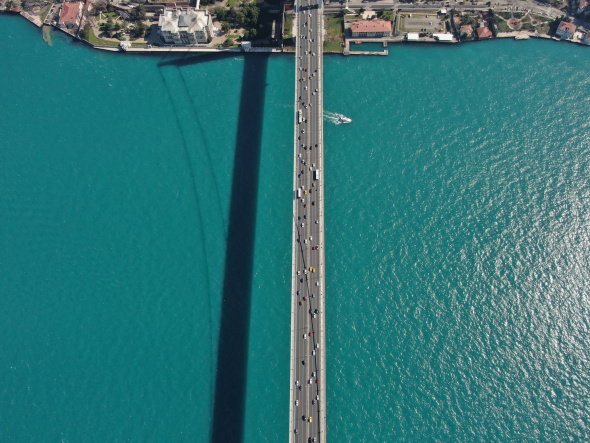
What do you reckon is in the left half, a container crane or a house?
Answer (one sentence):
It is a house that can be seen in the left half.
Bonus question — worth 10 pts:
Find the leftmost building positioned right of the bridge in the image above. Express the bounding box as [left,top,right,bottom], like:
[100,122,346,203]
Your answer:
[351,20,391,37]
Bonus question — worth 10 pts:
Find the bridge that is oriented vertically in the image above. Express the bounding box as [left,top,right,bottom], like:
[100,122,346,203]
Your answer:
[290,0,326,443]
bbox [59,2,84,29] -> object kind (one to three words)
house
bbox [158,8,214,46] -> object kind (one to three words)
building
